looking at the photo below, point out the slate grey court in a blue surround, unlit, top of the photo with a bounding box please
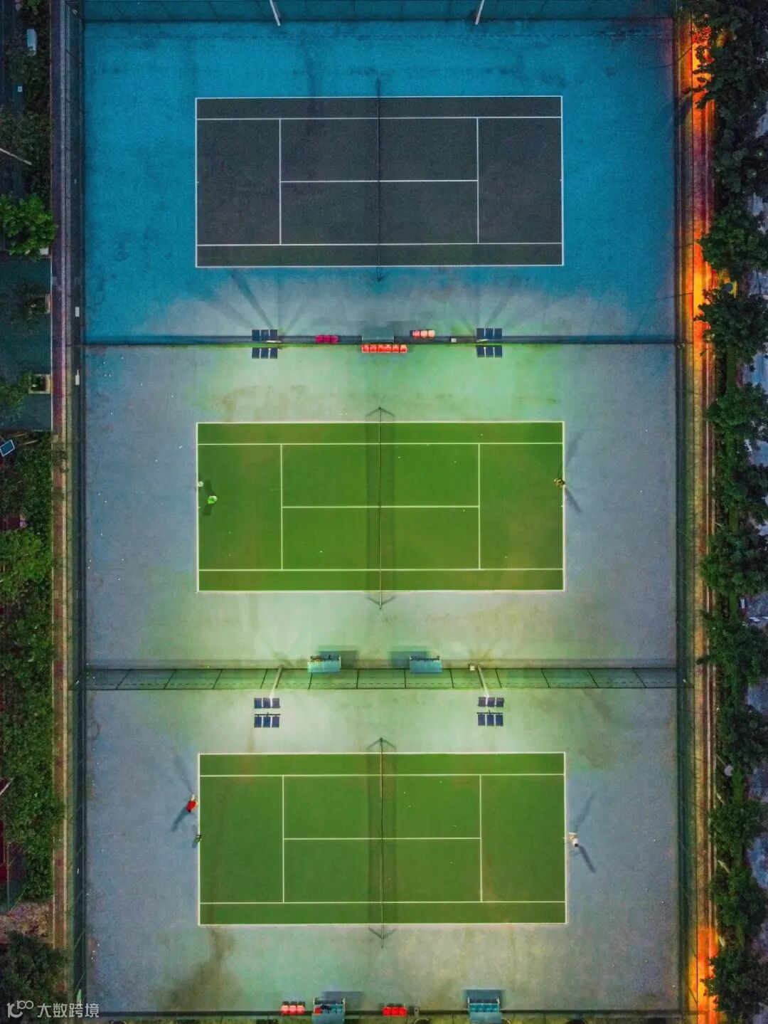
[83,0,674,345]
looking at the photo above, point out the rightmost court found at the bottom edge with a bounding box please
[86,667,677,1014]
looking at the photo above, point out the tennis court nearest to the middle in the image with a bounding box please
[85,346,676,670]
